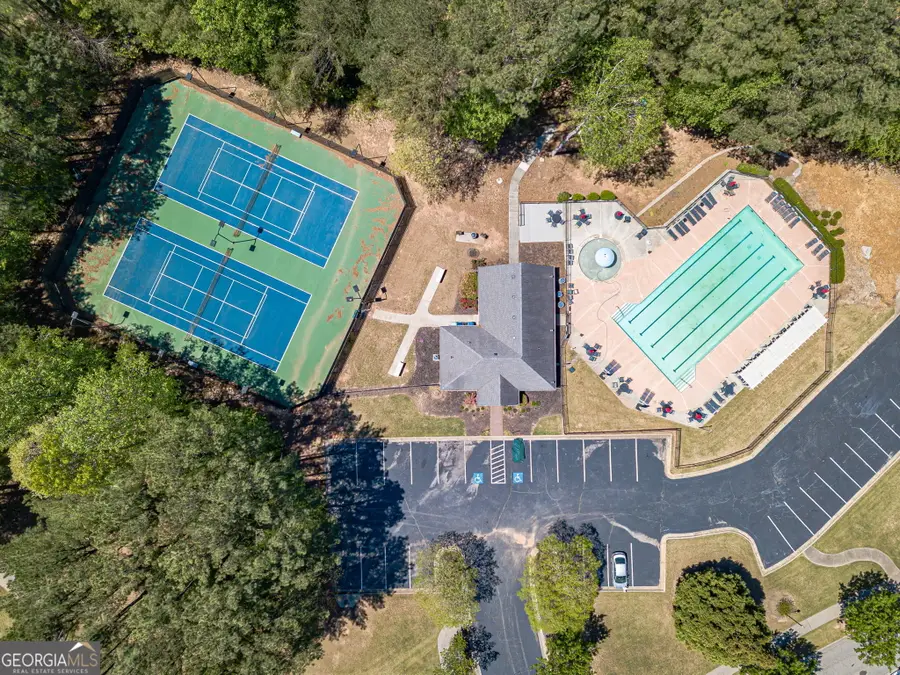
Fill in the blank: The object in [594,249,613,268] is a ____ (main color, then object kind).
white fountain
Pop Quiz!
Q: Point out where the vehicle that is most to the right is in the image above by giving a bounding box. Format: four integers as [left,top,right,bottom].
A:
[613,552,629,588]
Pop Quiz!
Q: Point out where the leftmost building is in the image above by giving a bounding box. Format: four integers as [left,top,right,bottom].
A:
[439,264,555,408]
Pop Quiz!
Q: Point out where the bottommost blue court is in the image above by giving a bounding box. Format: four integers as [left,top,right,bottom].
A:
[105,217,311,373]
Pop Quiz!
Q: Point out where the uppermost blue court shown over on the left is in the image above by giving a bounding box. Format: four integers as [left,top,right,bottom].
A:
[155,114,359,267]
